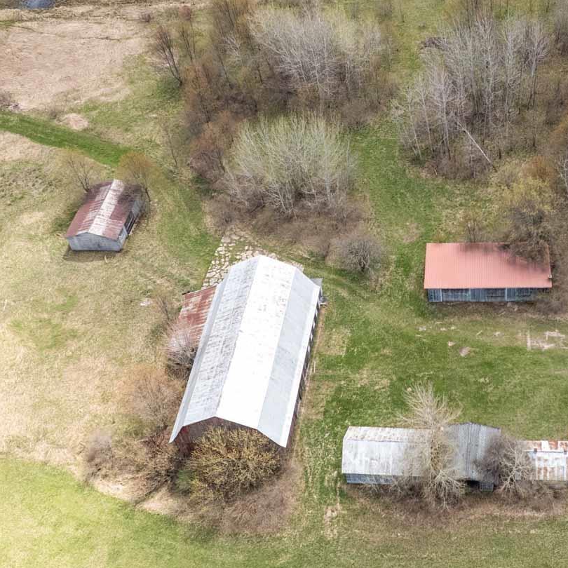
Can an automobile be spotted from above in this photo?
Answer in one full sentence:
No, the frame has no automobile in it.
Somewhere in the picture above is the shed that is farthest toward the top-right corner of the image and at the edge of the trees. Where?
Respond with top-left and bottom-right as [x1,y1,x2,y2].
[423,243,552,303]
